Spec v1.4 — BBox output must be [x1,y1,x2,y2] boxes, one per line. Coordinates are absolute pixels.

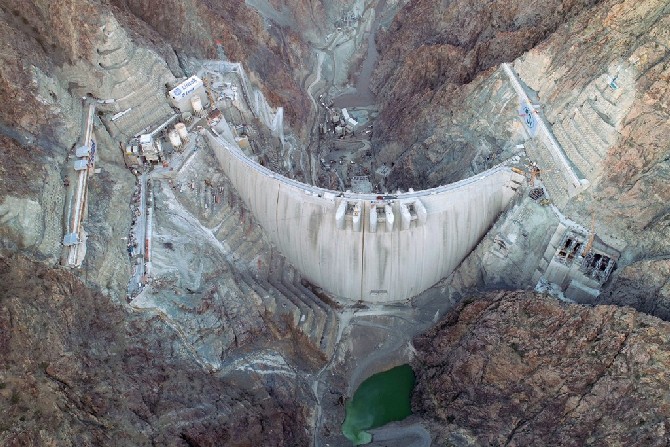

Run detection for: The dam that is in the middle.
[208,117,527,303]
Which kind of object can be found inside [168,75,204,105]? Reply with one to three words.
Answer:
building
